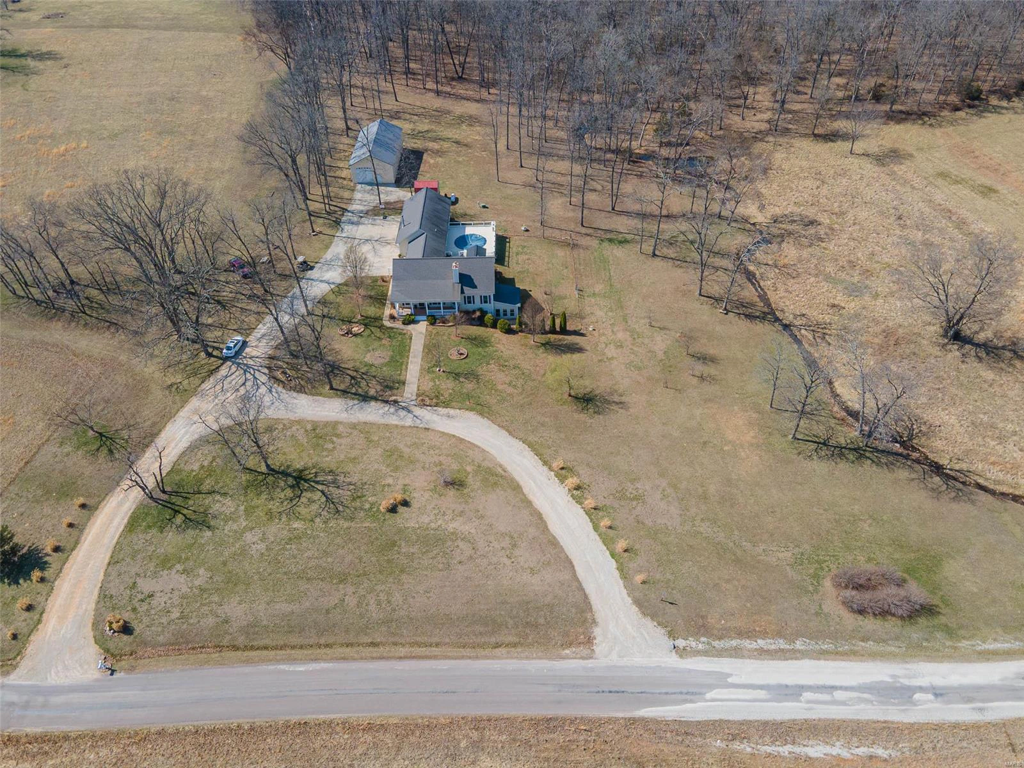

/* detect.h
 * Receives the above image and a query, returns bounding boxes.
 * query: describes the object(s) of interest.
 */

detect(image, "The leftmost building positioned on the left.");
[348,119,403,183]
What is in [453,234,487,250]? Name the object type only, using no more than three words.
swimming pool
